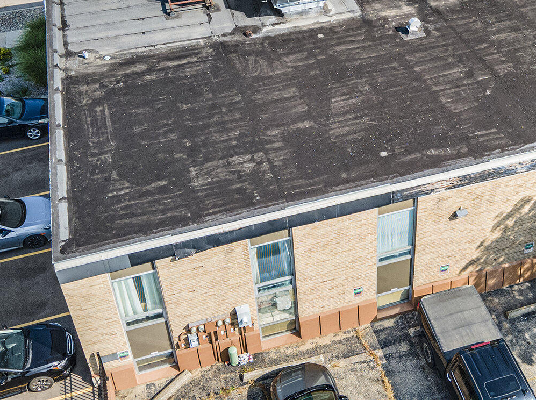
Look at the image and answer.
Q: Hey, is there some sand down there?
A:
No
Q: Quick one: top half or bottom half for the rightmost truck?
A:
bottom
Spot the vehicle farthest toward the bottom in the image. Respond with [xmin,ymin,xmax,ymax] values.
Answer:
[280,361,354,400]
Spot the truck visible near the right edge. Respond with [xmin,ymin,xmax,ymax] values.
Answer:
[416,286,536,400]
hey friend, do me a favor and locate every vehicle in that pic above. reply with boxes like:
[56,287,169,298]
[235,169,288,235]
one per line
[0,92,49,140]
[0,313,77,395]
[280,361,354,400]
[0,190,51,250]
[416,286,536,400]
